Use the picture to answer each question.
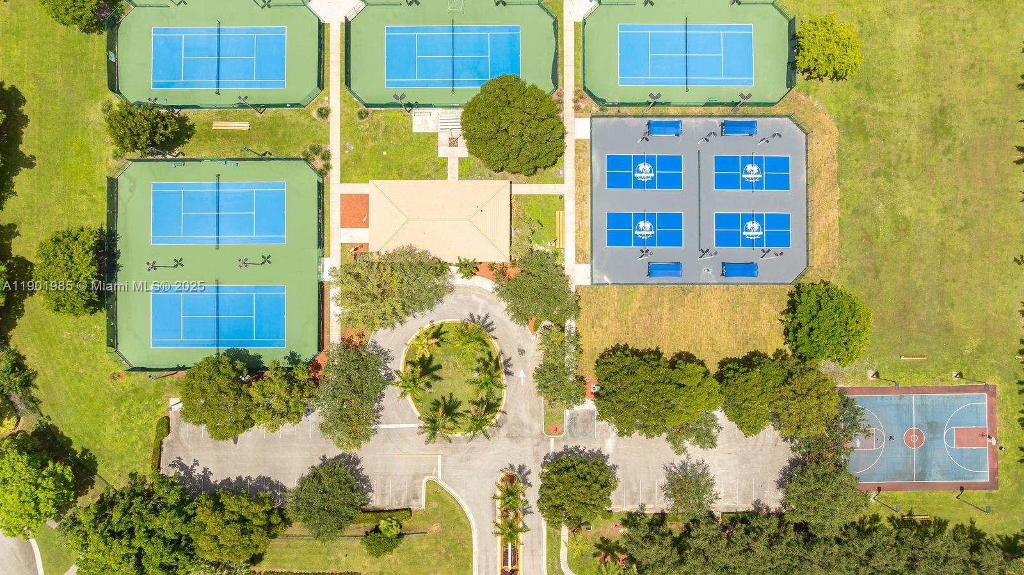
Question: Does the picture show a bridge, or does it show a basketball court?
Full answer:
There is a basketball court in the scene.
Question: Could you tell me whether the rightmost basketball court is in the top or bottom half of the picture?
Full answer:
The rightmost basketball court sits in the bottom half of the picture.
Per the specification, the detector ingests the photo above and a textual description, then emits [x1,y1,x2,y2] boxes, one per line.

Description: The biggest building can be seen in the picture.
[368,180,510,262]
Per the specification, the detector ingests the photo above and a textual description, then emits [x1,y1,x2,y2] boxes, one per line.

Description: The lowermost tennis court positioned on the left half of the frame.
[117,265,322,370]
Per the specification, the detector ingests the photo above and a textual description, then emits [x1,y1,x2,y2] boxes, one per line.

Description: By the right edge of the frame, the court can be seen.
[832,385,999,491]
